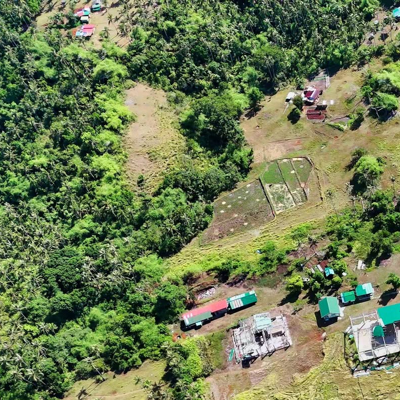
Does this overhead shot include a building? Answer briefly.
Yes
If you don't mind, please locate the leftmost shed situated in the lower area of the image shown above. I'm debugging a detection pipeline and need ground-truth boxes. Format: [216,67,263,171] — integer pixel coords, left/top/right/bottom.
[183,302,231,331]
